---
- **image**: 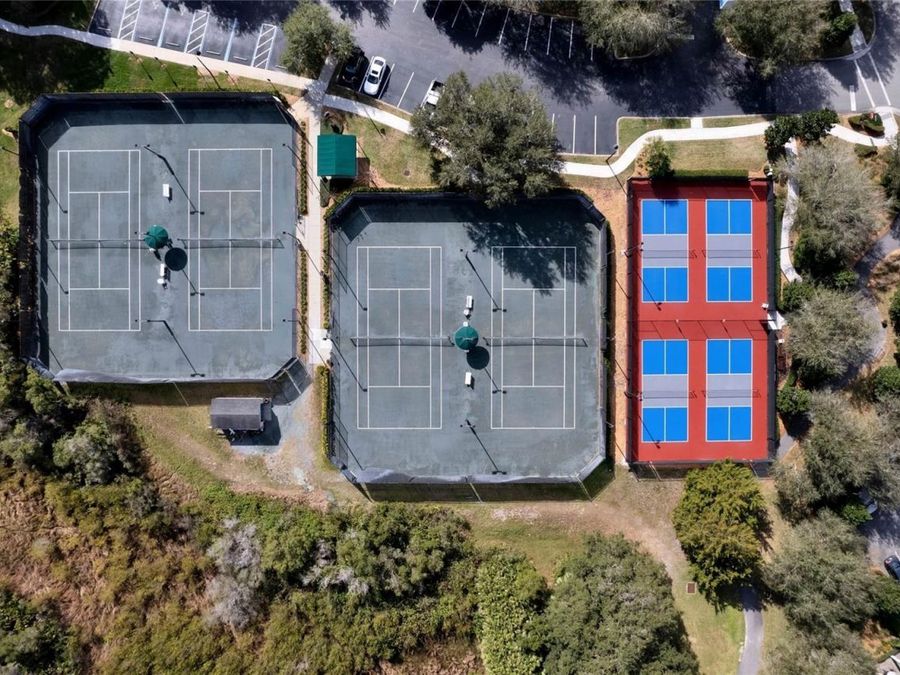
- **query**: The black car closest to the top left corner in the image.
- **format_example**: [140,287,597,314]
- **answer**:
[338,48,363,89]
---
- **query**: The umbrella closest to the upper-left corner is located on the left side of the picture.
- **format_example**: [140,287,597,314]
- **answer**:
[145,226,168,249]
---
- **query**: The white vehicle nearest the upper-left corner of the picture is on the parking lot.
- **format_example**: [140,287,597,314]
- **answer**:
[364,54,388,95]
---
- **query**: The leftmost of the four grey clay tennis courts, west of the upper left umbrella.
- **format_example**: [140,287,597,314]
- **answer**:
[33,100,165,378]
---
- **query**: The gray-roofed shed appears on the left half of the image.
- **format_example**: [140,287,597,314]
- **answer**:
[210,398,265,430]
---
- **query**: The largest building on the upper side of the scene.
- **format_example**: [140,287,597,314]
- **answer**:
[317,133,359,181]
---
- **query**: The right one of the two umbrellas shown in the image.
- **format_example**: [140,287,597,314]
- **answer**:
[455,327,477,350]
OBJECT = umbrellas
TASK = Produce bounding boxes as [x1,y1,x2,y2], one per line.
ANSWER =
[455,327,477,350]
[145,226,168,249]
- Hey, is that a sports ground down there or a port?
sports ground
